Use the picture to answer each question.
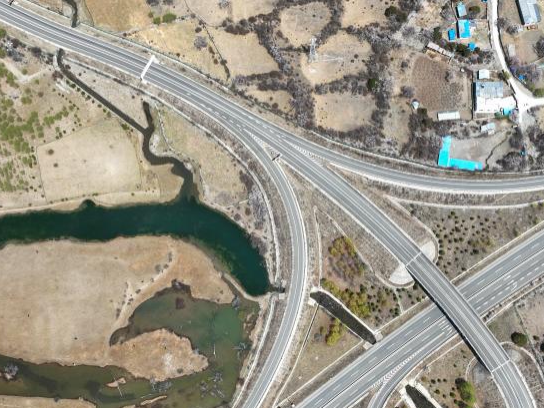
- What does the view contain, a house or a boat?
house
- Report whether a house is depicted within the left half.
No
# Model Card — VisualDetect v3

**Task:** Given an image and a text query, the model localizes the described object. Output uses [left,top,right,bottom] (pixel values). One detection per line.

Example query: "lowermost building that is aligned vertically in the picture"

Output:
[437,135,452,166]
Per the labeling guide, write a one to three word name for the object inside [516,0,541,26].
house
